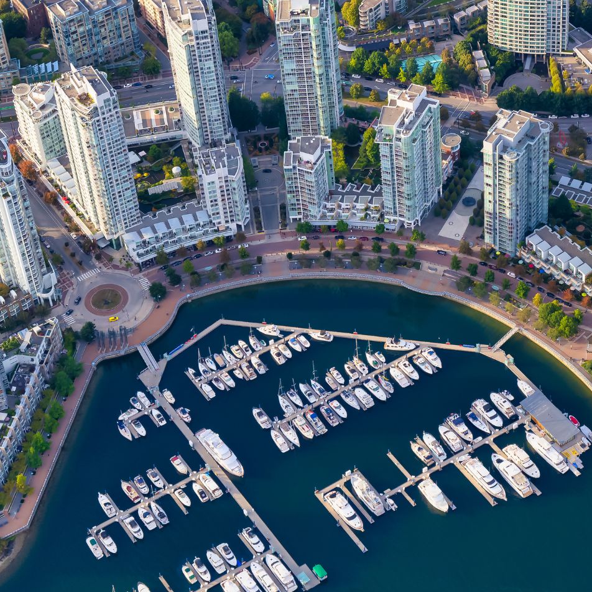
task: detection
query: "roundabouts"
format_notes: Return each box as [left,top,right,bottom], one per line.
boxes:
[65,269,147,330]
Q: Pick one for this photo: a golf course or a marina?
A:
marina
